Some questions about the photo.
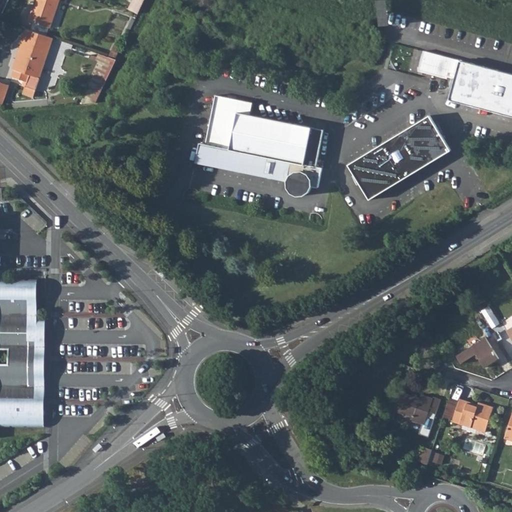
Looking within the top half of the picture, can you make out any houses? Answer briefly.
Yes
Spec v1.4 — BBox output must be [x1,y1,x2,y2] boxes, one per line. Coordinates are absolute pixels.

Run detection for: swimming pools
[462,440,487,456]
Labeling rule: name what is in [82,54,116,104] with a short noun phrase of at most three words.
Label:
shed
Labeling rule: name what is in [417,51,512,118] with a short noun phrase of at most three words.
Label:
building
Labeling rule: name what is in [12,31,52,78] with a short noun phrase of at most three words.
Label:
house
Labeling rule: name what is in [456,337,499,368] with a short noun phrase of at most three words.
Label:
house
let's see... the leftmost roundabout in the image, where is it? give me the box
[177,331,281,435]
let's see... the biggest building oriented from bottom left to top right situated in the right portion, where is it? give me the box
[347,116,450,200]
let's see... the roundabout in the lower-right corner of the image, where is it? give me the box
[408,482,480,512]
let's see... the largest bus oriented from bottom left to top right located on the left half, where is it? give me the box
[134,427,161,448]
